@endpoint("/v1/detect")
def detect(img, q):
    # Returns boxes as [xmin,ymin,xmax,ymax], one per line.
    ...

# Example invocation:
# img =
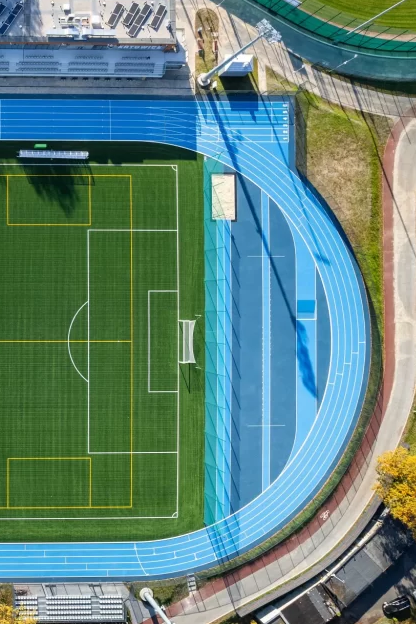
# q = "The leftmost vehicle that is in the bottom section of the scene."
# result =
[380,596,410,613]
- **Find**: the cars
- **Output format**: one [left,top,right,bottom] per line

[411,587,416,599]
[380,596,410,613]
